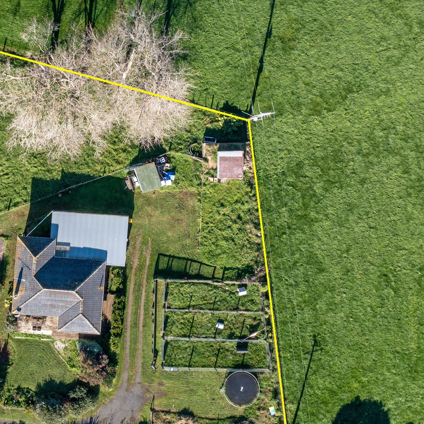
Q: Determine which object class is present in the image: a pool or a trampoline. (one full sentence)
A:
Visible in the photo is a trampoline.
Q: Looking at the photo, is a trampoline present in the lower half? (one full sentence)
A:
Yes, a trampoline appears in the lower half.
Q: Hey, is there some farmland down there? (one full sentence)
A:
Yes, there's farmland in this view.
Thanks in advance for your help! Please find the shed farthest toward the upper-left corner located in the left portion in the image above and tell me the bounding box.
[133,162,162,193]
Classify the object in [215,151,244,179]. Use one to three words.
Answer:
shed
